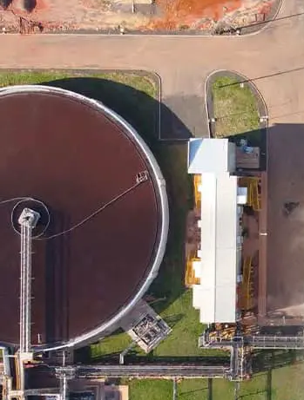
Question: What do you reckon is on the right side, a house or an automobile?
house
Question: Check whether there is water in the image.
Yes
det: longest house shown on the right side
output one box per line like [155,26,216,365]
[188,137,245,323]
